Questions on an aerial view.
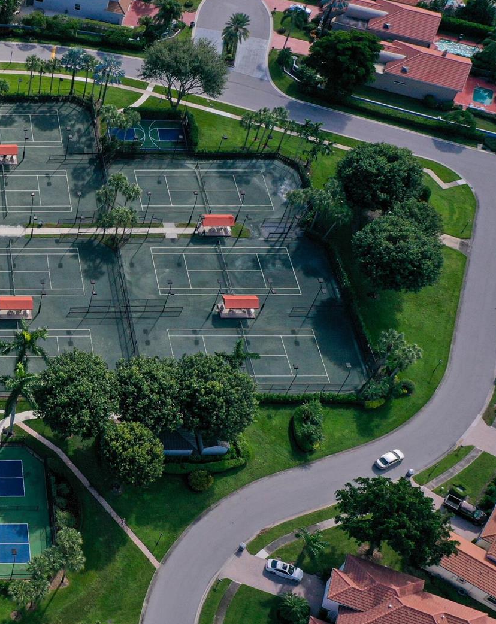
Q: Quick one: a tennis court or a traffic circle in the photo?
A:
tennis court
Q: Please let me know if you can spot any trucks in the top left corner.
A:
No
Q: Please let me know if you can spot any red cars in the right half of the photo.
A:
No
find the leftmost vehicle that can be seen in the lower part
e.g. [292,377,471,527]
[266,557,304,582]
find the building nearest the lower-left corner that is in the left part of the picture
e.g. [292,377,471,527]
[161,418,229,456]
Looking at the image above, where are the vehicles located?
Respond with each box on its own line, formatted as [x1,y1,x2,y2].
[442,493,488,523]
[266,557,304,582]
[375,448,406,469]
[289,0,313,14]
